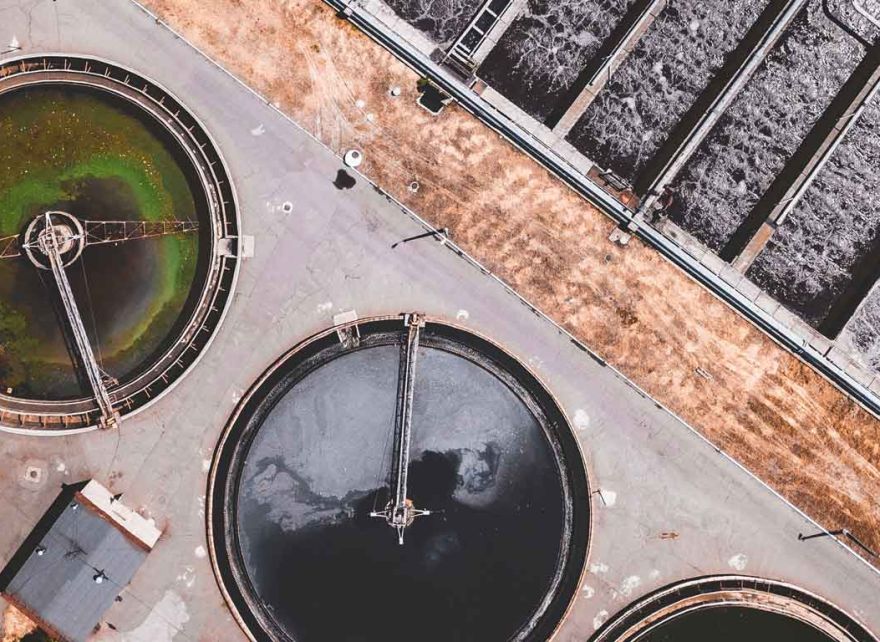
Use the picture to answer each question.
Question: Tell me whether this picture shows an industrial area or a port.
industrial area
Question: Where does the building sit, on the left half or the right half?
left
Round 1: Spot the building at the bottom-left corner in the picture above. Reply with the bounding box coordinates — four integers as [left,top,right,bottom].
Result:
[0,480,162,642]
